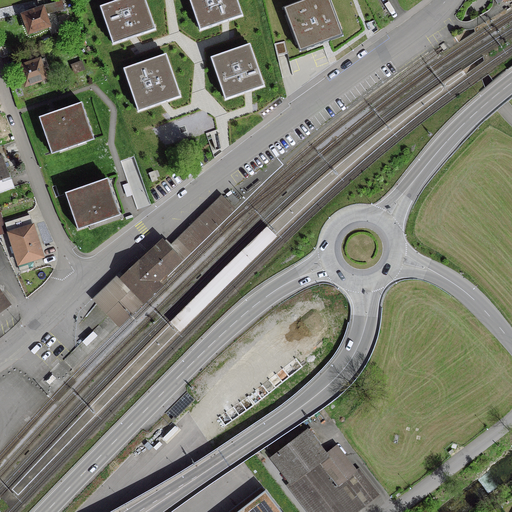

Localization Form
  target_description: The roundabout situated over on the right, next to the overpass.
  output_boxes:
[294,184,431,316]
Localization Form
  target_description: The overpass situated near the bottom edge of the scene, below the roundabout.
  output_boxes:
[114,312,381,512]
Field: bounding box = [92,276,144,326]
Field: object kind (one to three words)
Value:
shed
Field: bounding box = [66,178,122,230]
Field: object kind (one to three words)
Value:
building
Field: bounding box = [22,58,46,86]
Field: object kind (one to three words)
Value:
house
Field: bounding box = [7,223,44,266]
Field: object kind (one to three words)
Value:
house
